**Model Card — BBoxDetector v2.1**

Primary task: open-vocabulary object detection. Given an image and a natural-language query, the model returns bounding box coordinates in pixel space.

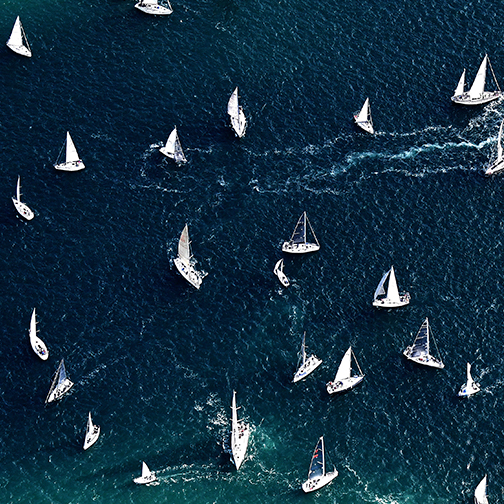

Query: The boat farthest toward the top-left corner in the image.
[5,18,31,58]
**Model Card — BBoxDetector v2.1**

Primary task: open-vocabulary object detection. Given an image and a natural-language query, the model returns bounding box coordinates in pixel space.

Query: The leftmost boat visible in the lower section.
[31,311,49,360]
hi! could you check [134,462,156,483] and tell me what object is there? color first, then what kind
white boat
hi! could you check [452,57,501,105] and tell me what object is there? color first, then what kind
white boat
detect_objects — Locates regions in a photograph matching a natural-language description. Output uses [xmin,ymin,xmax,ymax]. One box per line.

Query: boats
[231,392,248,473]
[282,212,319,253]
[134,0,173,15]
[230,87,246,140]
[158,126,187,163]
[354,99,373,136]
[294,331,322,384]
[374,268,410,307]
[485,122,504,177]
[476,476,488,504]
[56,133,91,172]
[452,57,501,105]
[403,318,443,369]
[31,311,49,360]
[172,226,198,290]
[13,176,35,219]
[5,18,31,58]
[460,365,481,397]
[302,438,338,492]
[84,413,102,450]
[134,462,156,483]
[274,258,292,288]
[47,360,76,403]
[320,349,364,393]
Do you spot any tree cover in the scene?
No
